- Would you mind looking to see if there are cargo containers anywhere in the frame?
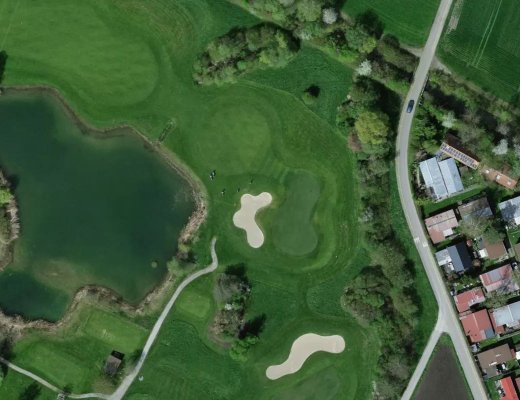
No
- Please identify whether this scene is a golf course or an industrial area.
golf course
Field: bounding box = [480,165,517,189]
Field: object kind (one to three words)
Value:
shed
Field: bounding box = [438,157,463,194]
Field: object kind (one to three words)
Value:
building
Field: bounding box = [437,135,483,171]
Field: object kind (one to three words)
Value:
barn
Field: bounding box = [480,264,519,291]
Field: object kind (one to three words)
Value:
house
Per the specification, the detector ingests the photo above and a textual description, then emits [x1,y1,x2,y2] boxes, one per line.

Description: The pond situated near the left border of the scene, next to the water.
[0,99,182,311]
